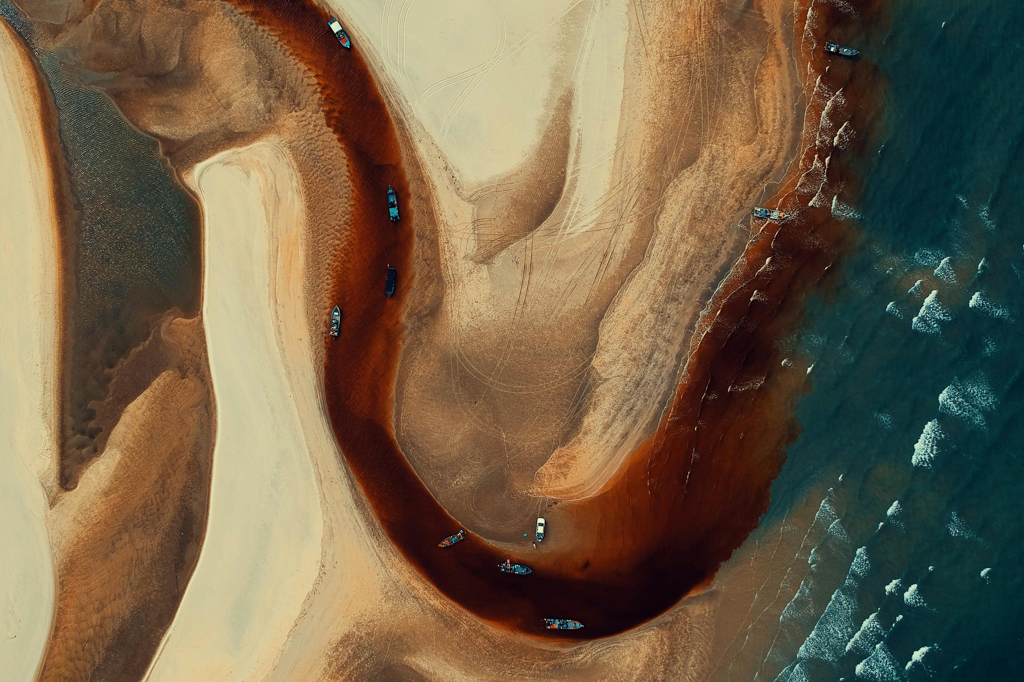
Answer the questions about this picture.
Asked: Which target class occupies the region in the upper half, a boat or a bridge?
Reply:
boat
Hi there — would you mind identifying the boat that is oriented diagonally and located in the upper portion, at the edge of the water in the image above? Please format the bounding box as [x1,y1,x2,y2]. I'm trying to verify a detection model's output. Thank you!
[327,16,349,46]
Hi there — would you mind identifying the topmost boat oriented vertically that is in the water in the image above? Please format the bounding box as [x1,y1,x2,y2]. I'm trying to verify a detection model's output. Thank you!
[387,185,399,220]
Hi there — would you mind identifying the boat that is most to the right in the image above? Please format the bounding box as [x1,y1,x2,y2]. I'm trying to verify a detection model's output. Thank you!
[825,40,862,53]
